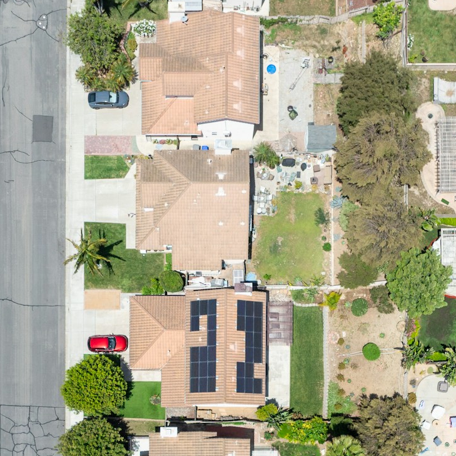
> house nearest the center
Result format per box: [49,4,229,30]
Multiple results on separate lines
[136,139,252,272]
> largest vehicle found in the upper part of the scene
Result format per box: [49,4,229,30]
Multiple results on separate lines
[88,87,129,109]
